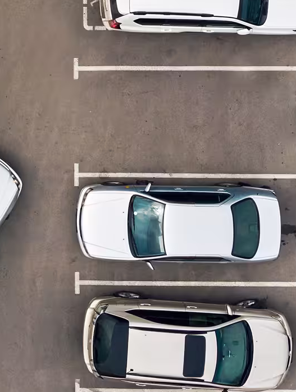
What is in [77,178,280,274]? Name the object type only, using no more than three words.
car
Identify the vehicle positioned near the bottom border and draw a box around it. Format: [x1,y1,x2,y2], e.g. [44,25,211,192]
[84,291,292,392]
